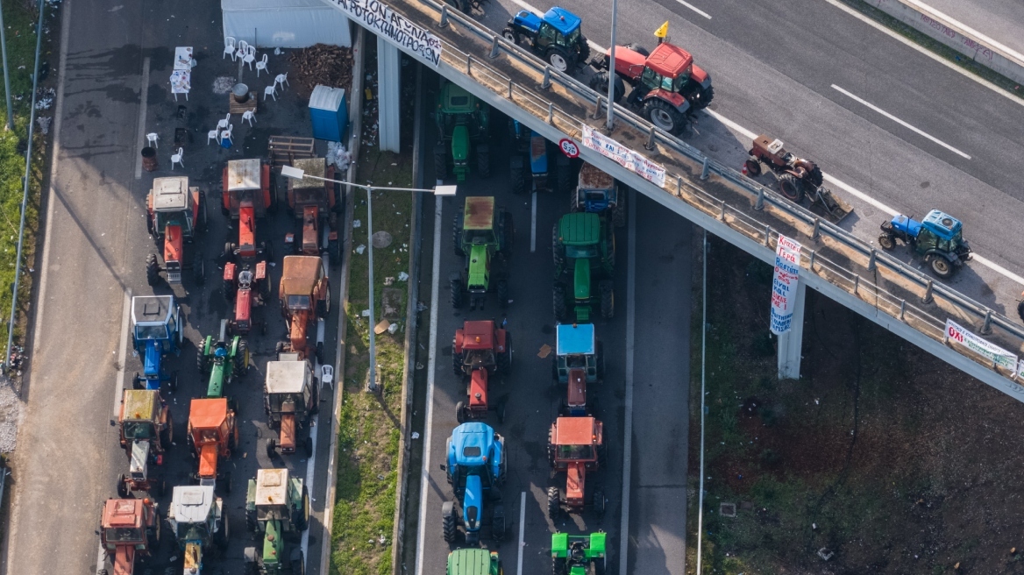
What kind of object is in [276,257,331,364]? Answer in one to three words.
work vehicle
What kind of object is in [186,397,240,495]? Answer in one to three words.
work vehicle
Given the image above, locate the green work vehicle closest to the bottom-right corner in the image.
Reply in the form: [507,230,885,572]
[549,535,609,575]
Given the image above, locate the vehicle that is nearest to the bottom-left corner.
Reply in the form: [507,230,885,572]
[92,498,159,575]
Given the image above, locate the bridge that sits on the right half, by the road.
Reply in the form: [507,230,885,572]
[365,0,1024,403]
